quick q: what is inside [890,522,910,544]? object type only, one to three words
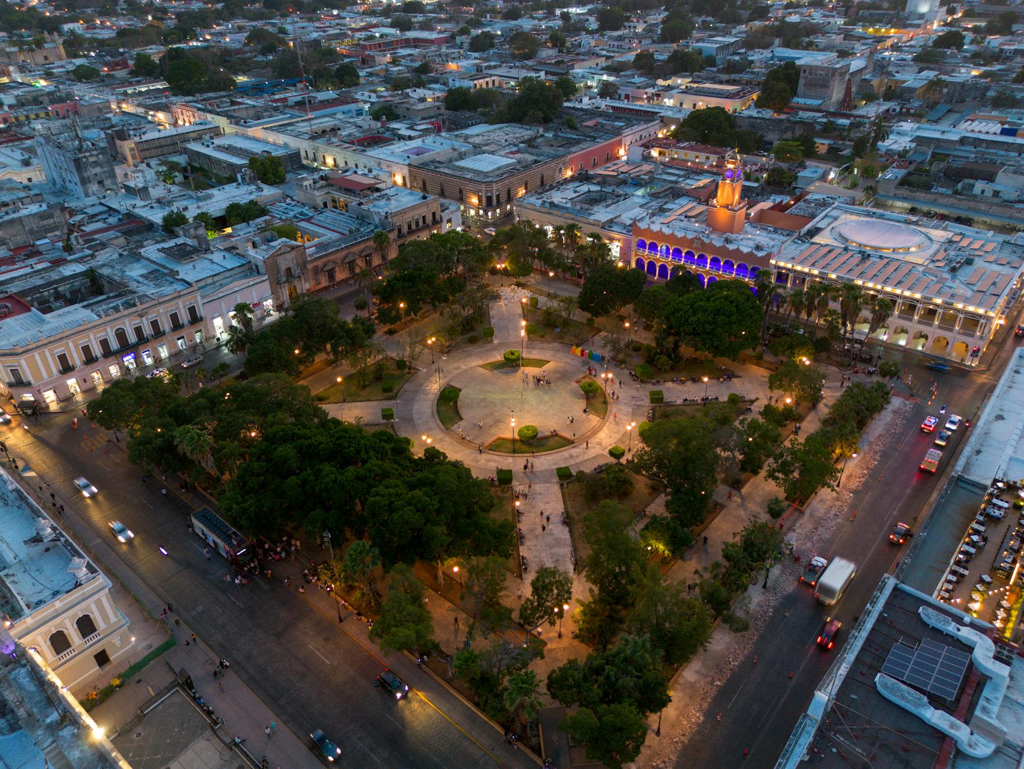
car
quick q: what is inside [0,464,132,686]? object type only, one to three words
building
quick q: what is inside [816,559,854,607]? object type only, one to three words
truck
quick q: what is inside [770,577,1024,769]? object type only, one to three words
building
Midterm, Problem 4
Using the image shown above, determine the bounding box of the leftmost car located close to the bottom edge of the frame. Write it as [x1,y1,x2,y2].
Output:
[307,725,344,763]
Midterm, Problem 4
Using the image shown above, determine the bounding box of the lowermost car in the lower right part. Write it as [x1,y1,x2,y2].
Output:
[817,619,842,647]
